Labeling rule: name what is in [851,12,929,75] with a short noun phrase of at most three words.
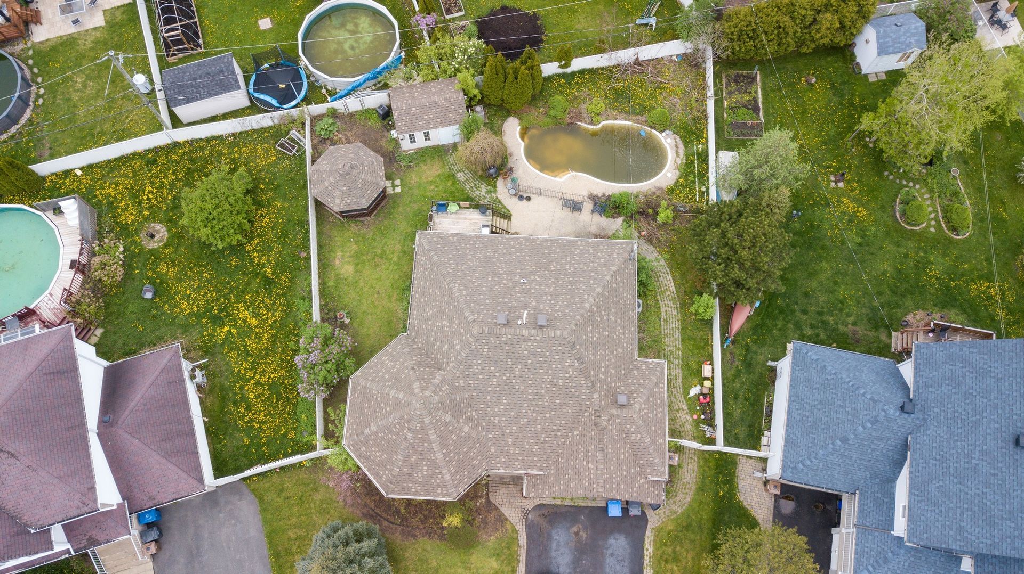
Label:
shed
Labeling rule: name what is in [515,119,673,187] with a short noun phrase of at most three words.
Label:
swimming pool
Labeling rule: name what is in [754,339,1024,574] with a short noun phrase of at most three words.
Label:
house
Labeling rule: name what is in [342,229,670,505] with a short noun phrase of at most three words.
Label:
house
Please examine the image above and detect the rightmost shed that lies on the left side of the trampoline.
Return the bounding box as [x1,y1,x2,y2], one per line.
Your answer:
[159,52,249,123]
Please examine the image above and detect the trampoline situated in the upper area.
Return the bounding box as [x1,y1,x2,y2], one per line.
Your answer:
[248,45,310,111]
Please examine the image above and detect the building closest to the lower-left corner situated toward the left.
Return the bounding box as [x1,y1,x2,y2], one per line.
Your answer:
[0,320,215,574]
